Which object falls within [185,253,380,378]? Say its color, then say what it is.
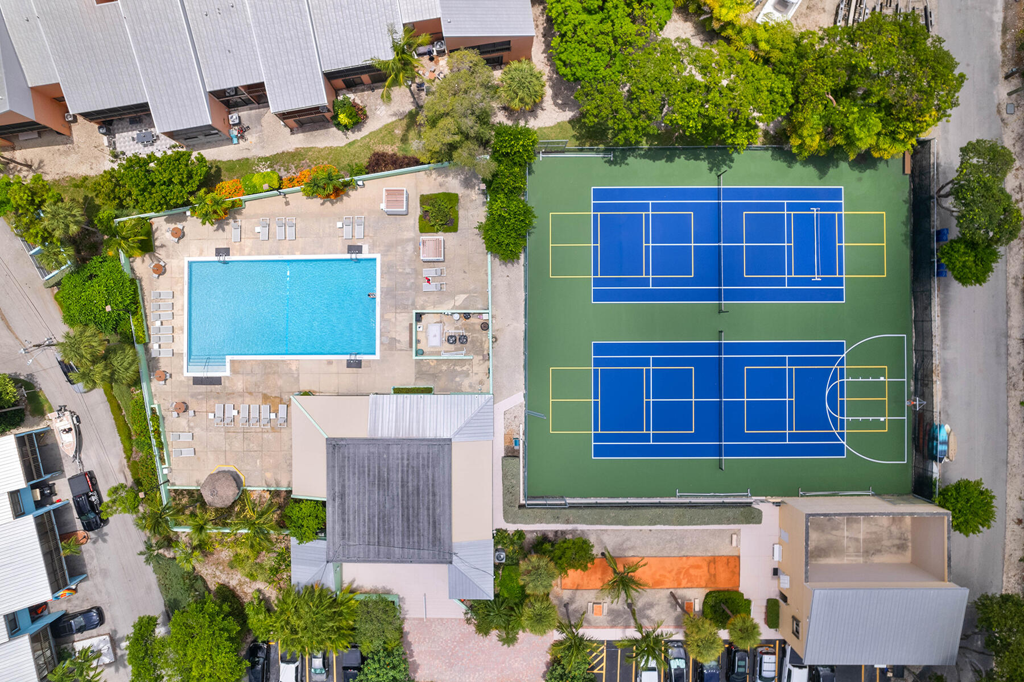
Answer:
blue swimming pool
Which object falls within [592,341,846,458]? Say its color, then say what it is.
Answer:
blue tennis court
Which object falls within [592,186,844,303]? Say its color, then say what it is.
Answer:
blue tennis court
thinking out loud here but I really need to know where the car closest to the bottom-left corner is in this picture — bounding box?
[52,604,107,637]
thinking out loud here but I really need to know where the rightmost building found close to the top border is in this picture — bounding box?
[443,0,535,59]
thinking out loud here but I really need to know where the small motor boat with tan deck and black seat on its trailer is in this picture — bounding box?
[44,404,73,459]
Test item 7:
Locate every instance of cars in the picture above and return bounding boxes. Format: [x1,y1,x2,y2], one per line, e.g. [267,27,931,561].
[66,470,106,533]
[812,664,838,682]
[726,646,750,682]
[753,645,780,682]
[665,643,690,682]
[306,648,330,682]
[275,638,302,682]
[697,653,723,682]
[783,646,810,682]
[635,645,662,682]
[52,349,89,395]
[52,604,107,637]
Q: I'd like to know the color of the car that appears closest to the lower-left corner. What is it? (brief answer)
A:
black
